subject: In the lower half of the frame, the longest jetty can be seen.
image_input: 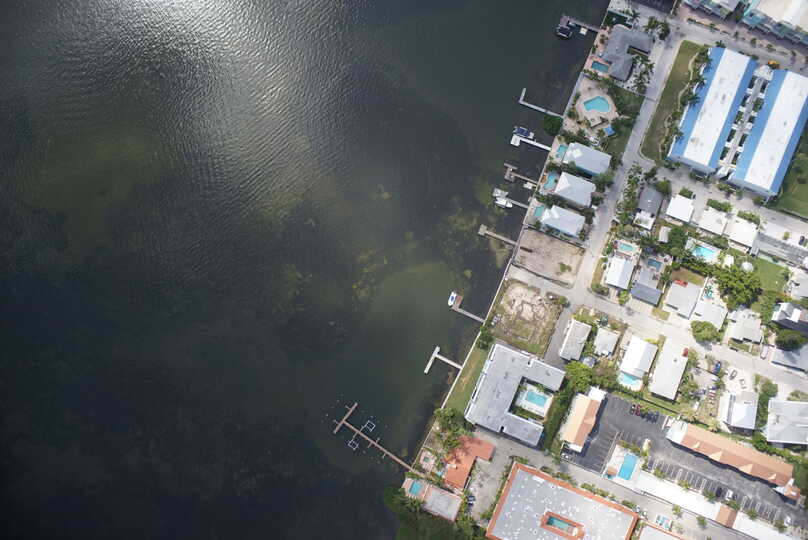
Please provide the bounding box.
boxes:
[332,401,432,482]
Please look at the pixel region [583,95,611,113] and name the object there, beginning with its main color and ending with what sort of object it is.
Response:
blue swimming pool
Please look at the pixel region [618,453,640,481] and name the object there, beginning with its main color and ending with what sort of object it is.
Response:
blue swimming pool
